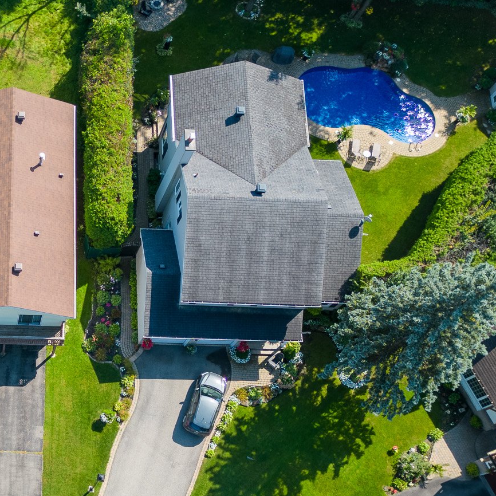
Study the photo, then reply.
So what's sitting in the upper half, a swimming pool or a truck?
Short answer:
swimming pool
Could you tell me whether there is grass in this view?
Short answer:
Yes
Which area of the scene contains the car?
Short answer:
bottom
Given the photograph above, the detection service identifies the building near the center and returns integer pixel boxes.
[139,61,362,352]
